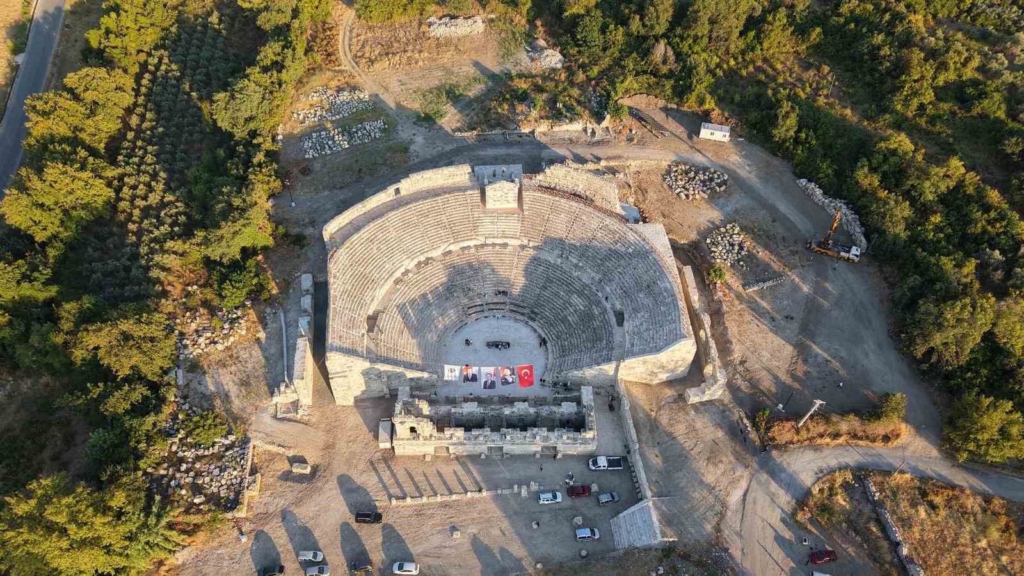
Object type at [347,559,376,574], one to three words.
car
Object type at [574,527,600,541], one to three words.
car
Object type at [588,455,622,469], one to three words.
vehicle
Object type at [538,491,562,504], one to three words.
vehicle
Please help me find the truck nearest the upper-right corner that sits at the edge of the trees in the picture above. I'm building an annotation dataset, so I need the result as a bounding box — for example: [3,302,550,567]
[808,214,862,265]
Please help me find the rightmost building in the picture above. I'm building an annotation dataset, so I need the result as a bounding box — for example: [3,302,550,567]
[388,377,601,461]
